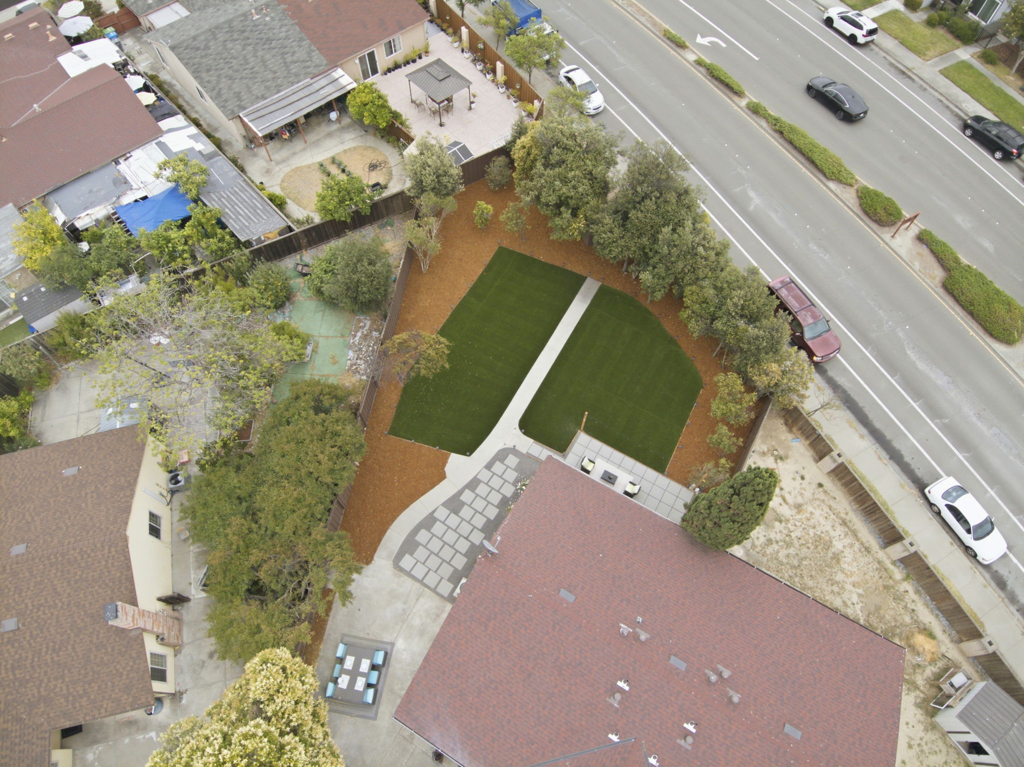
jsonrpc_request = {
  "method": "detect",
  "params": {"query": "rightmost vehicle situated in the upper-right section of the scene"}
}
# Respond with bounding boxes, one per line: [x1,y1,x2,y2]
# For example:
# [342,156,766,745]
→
[963,112,1024,164]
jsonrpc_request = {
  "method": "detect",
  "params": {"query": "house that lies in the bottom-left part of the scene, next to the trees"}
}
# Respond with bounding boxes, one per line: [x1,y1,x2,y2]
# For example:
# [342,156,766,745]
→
[0,421,184,767]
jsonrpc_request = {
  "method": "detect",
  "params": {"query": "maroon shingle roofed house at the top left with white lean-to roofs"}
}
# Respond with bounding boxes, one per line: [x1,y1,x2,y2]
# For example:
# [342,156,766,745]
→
[0,5,165,227]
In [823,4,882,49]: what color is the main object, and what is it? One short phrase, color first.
white car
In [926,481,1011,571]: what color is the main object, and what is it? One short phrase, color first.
white car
